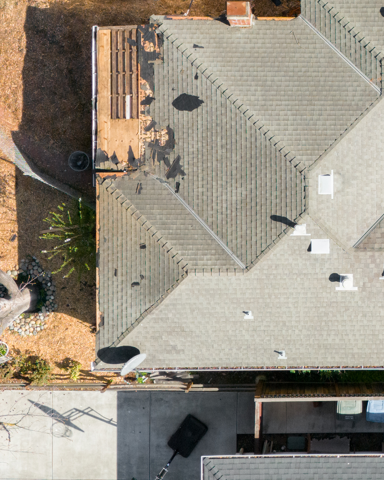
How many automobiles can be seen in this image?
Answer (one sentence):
I count no automobiles.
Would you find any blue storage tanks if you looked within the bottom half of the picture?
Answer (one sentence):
No, no blue storage tank can be made out within the bottom half of the picture.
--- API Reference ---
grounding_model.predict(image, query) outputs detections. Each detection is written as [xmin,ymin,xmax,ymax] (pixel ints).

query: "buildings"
[197,451,384,480]
[93,0,384,371]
